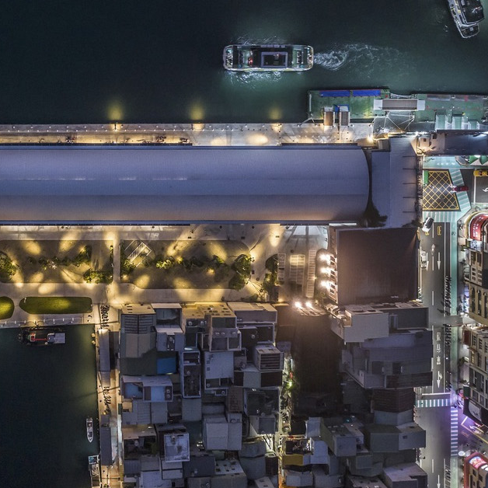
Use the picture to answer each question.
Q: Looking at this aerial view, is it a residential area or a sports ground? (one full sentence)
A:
The picture captures a residential area.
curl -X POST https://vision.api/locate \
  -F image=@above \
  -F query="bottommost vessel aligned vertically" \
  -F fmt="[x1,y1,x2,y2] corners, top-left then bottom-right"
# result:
[88,455,100,488]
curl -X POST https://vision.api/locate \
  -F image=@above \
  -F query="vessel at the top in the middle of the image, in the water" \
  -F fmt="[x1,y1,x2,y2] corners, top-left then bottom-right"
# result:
[223,45,316,72]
